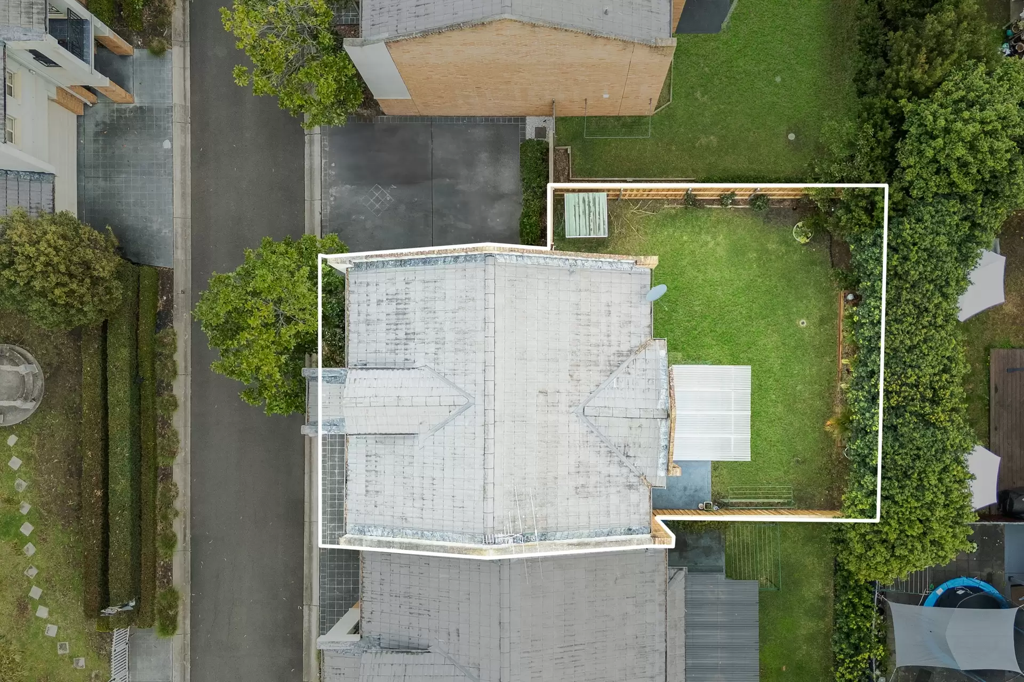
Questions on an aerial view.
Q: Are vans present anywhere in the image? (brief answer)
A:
No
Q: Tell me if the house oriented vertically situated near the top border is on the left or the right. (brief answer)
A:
left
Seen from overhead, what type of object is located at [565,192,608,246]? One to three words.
shed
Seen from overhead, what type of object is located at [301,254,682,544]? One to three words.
house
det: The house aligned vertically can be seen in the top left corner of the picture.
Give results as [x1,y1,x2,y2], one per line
[0,0,110,237]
